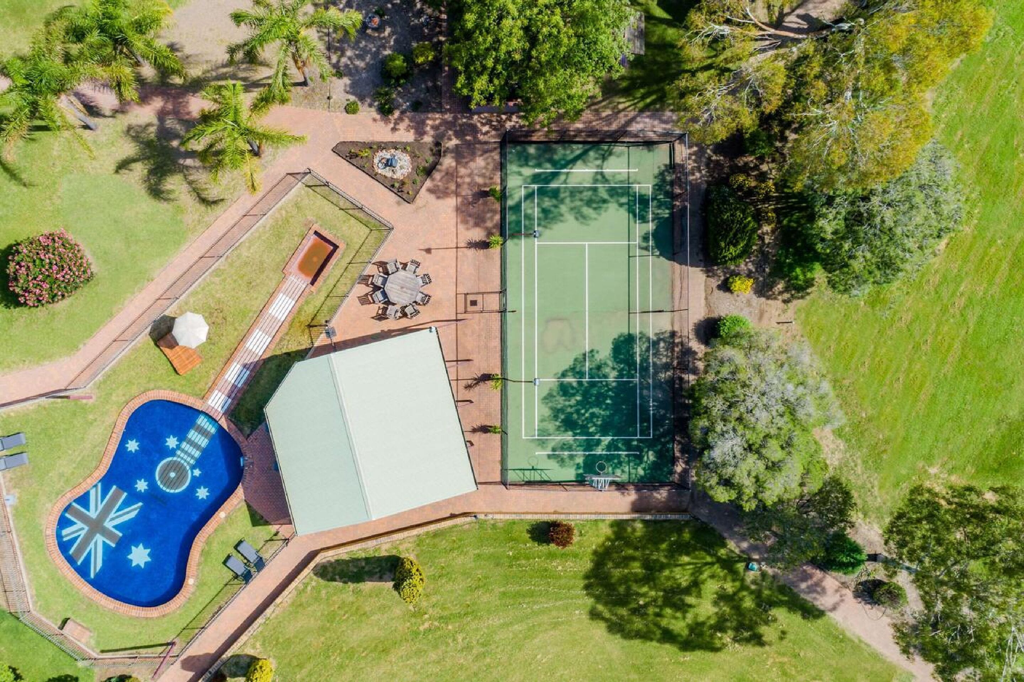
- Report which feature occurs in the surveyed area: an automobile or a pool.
pool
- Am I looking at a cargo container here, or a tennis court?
tennis court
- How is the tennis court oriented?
vertically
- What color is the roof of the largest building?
white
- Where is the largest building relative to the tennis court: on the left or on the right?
on the left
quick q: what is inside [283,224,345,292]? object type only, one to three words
pond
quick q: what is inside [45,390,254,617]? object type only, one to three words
swimming pool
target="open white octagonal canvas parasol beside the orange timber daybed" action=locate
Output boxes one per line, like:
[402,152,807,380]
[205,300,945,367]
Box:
[173,312,209,348]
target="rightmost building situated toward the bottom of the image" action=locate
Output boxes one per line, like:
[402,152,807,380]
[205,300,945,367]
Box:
[262,317,480,536]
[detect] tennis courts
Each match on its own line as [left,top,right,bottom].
[503,142,673,482]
